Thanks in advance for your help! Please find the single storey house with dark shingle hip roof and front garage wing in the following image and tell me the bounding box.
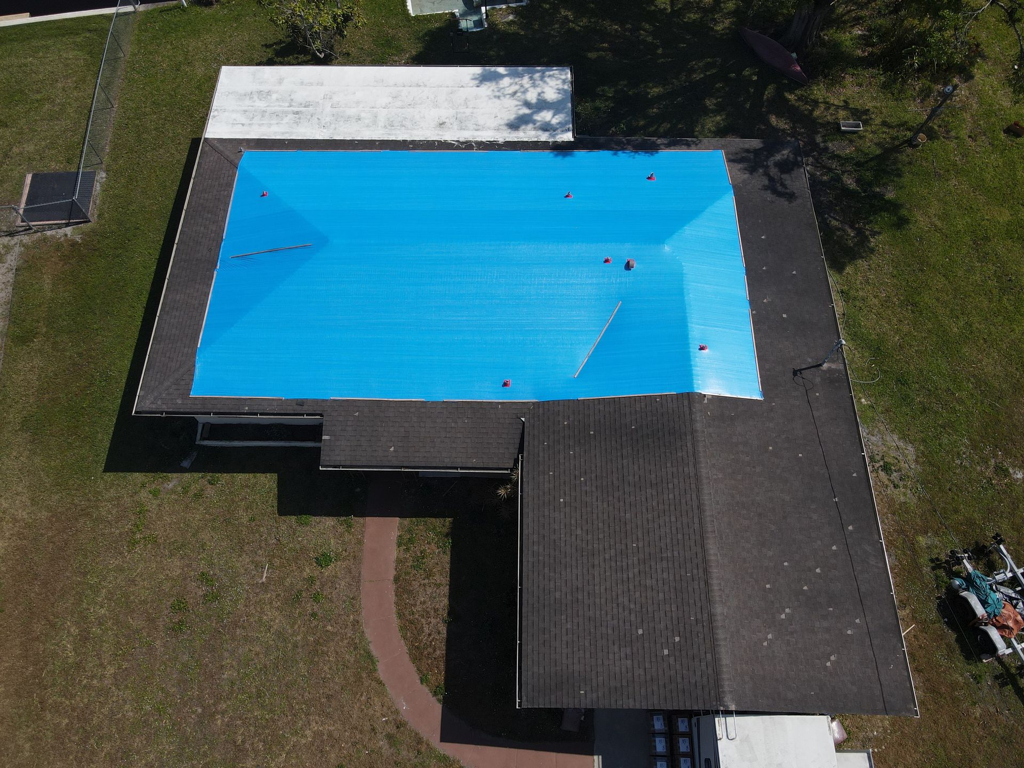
[132,66,918,717]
